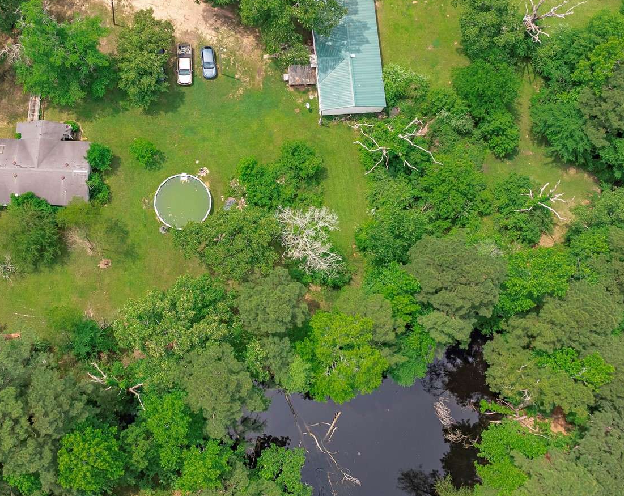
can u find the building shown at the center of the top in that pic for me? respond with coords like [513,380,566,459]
[312,0,387,119]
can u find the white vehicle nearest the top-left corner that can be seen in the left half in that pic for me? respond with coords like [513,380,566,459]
[175,43,194,87]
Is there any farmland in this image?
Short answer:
No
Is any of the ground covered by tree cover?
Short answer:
Yes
